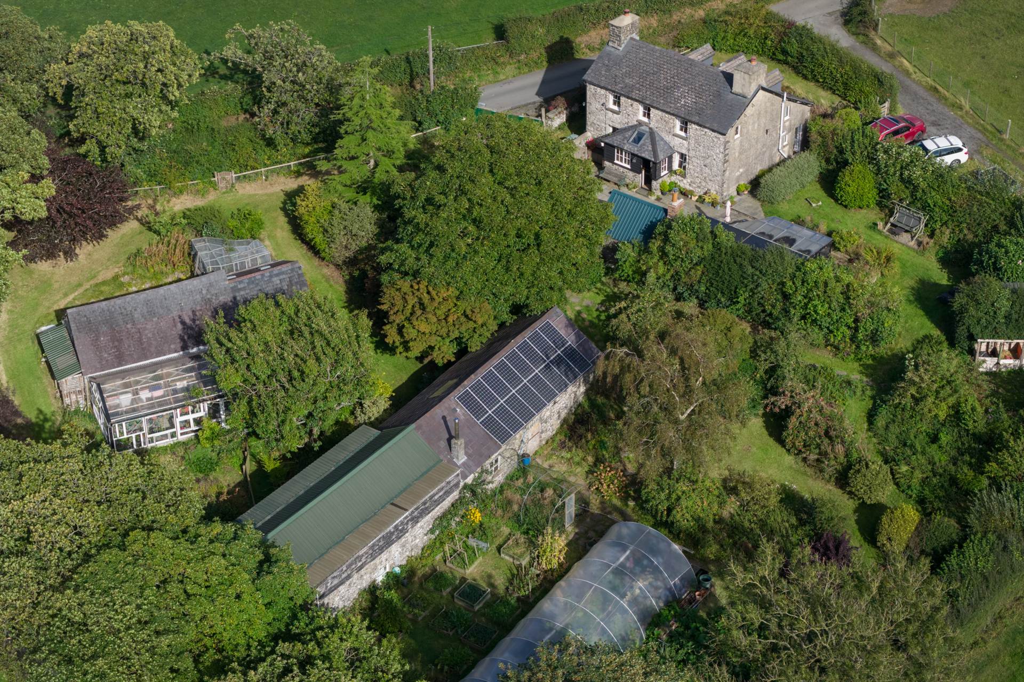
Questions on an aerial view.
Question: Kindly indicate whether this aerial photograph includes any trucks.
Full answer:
No, no truck can be seen from above.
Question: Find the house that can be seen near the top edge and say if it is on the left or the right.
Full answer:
The house that can be seen near the top edge is on the right side of the image.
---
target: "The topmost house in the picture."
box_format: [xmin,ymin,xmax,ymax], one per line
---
[582,11,814,197]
